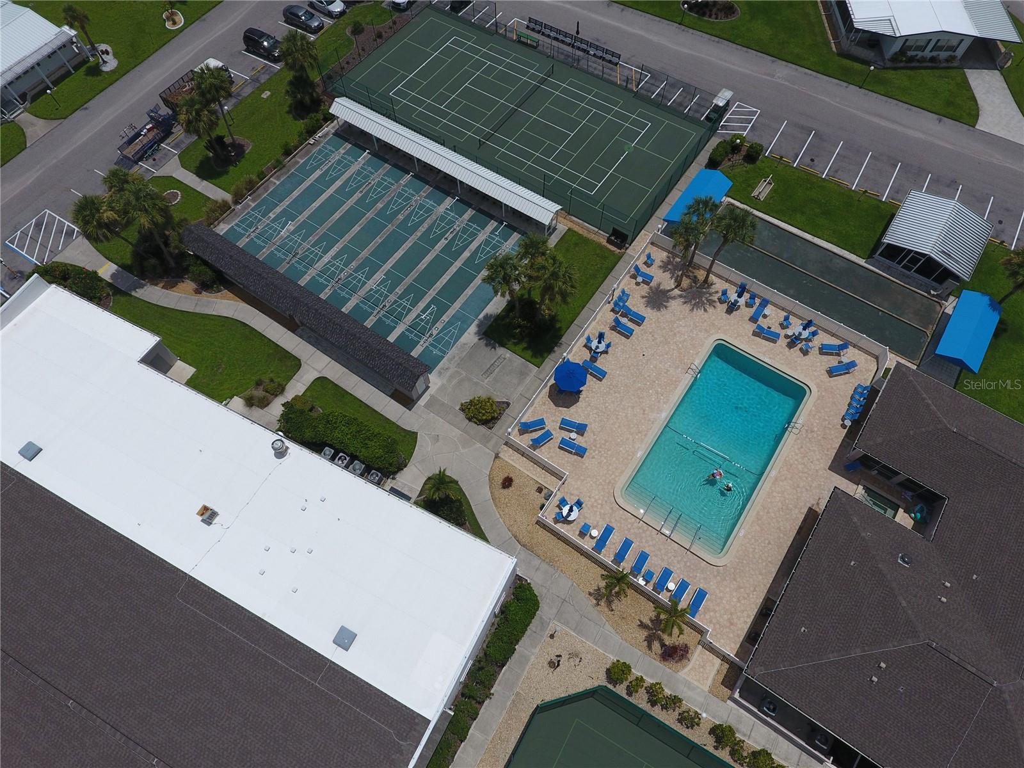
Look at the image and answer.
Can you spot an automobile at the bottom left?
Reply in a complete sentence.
No, I can find no automobile at the bottom left.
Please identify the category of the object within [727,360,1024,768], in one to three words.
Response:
building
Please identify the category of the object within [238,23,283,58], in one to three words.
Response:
car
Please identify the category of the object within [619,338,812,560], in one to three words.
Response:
swimming pool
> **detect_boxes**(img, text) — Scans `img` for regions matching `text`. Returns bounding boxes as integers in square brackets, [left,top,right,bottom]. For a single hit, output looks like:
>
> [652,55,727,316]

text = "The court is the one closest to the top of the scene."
[340,7,708,227]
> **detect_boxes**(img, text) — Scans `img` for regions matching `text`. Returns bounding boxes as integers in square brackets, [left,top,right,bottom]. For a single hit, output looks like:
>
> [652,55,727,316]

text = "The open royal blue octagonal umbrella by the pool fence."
[552,360,588,394]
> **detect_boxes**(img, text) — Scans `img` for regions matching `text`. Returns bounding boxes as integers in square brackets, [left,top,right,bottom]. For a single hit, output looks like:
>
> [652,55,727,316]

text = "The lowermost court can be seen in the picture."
[496,688,735,768]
